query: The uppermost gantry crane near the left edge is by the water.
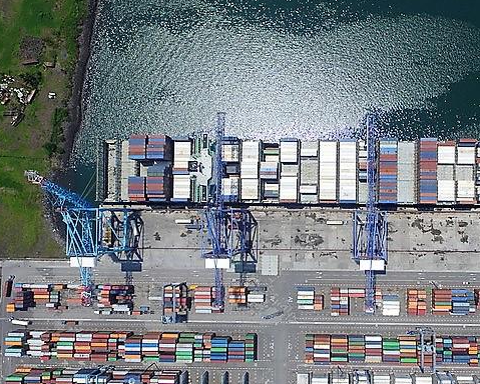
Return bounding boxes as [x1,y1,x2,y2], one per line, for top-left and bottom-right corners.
[19,169,138,310]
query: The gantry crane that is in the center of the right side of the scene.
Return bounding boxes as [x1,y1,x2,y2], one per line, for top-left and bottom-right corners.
[346,112,388,312]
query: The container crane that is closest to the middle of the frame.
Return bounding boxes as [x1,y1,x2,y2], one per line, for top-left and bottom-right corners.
[203,111,253,311]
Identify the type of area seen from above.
port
